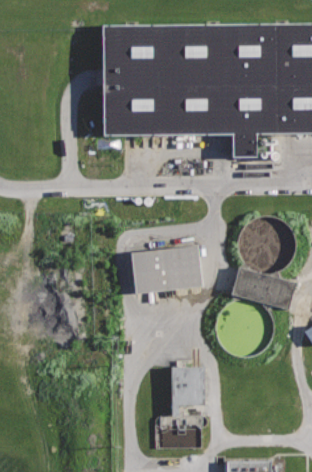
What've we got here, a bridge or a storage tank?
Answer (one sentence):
There is a storage tank in the scene.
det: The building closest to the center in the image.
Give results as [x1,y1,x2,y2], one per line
[131,245,202,294]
